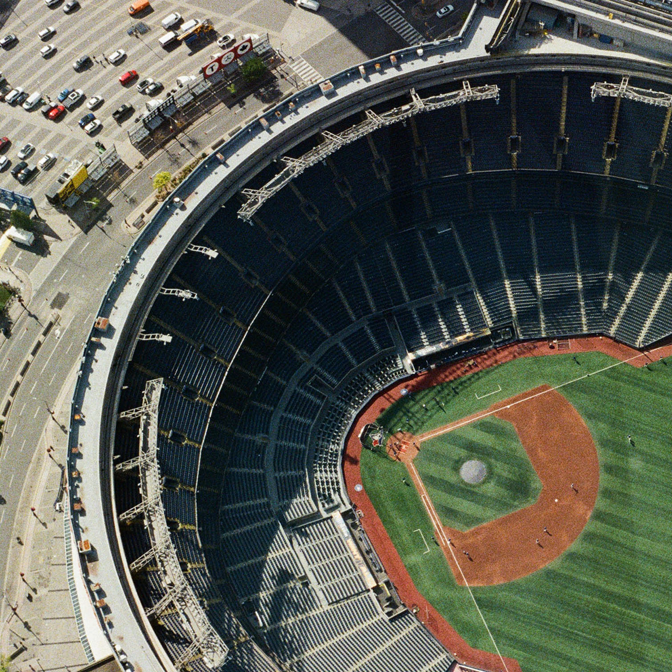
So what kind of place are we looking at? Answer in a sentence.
The picture captures a sports ground.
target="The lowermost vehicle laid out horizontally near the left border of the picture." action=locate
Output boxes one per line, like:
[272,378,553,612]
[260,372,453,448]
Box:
[4,226,37,244]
